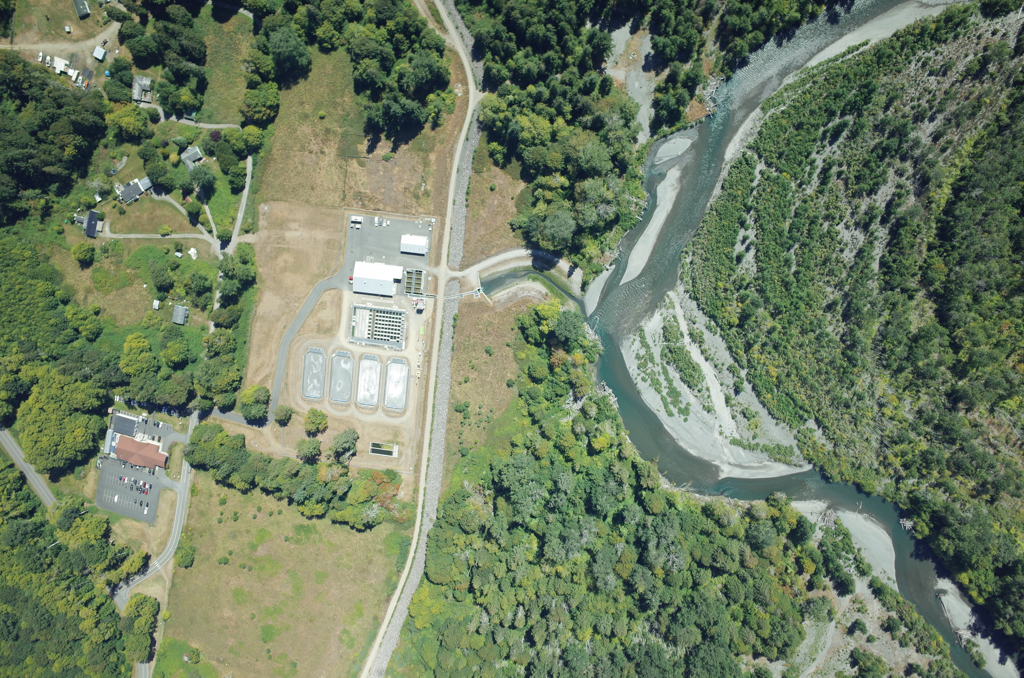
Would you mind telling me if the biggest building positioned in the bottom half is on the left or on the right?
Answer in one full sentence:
The biggest building positioned in the bottom half is on the left side of the image.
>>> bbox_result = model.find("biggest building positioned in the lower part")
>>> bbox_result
[109,413,170,467]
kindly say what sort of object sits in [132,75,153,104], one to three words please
house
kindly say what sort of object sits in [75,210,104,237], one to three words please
house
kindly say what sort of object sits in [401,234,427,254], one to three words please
shed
